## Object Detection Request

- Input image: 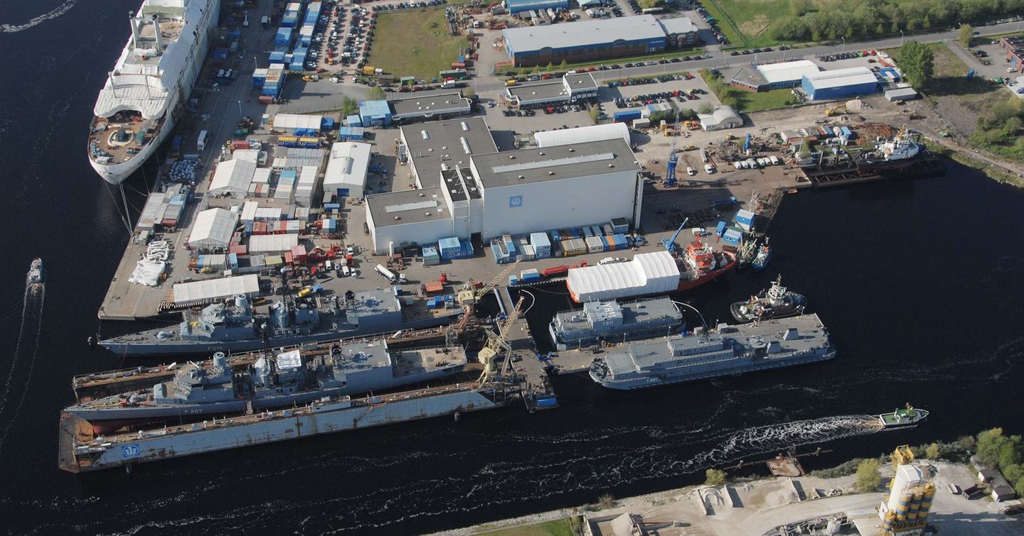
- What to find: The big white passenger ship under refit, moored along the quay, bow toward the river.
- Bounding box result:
[83,0,225,186]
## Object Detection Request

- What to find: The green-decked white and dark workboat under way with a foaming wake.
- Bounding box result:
[878,405,928,432]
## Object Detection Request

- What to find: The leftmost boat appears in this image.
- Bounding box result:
[27,256,43,286]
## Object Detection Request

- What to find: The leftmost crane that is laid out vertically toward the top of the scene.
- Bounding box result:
[662,109,681,190]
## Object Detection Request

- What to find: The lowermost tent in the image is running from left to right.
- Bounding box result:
[173,275,260,308]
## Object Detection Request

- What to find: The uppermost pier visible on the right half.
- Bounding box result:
[801,141,948,193]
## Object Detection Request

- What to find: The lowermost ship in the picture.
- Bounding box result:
[766,452,802,477]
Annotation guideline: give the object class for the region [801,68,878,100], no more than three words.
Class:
building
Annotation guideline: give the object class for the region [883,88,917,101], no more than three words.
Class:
shed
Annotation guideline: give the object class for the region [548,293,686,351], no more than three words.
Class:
ship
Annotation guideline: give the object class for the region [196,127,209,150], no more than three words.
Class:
vehicle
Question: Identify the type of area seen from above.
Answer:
port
